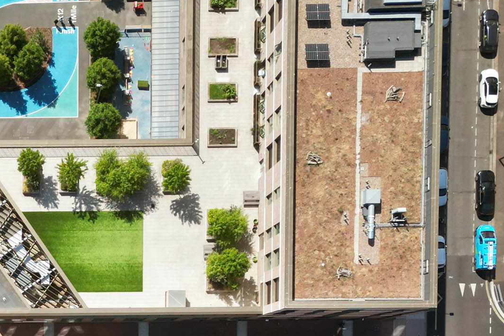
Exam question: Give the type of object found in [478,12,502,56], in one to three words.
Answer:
car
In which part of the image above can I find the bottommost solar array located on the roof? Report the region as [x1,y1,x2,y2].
[304,43,330,62]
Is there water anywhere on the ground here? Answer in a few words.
No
